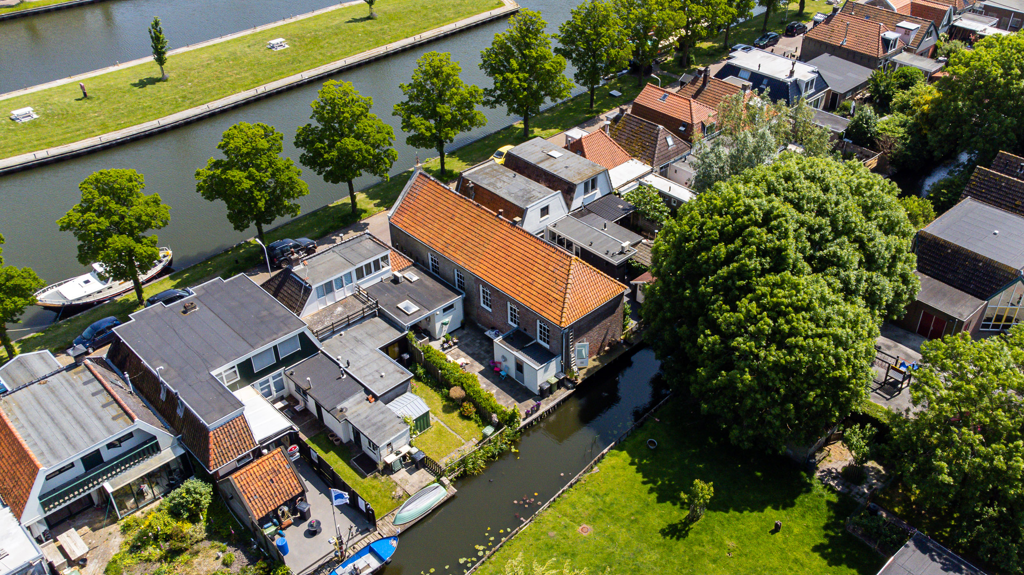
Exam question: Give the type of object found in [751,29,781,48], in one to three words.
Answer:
car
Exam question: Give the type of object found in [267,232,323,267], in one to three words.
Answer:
car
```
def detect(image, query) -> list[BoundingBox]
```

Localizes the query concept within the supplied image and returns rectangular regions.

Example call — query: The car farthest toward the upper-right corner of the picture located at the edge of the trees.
[784,19,807,35]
